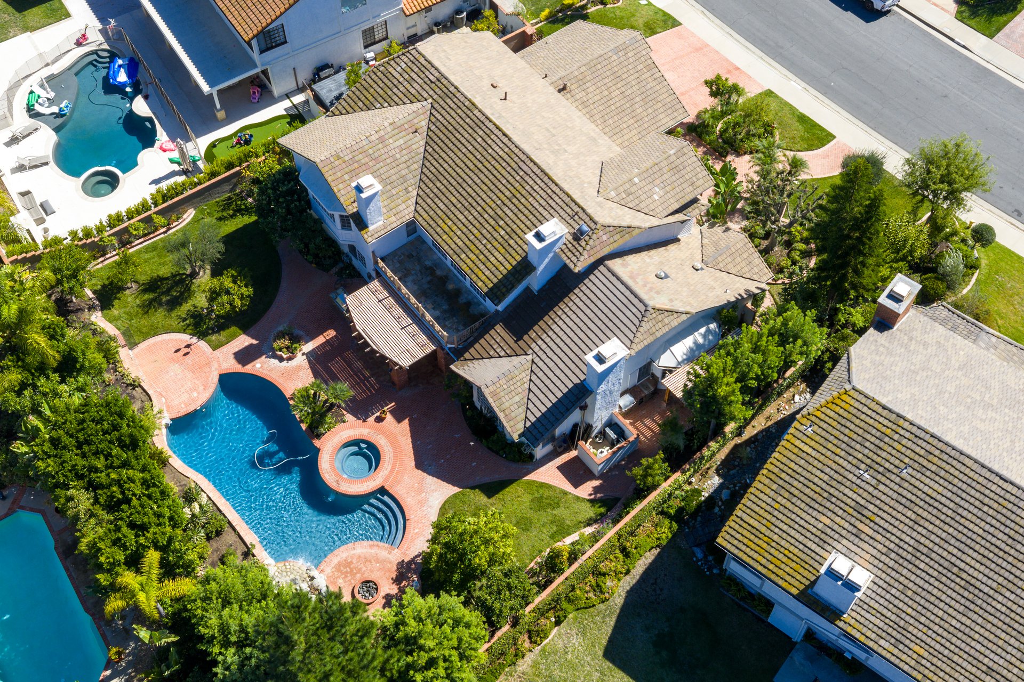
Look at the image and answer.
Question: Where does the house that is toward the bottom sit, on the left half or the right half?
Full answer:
The house that is toward the bottom sits on the right side.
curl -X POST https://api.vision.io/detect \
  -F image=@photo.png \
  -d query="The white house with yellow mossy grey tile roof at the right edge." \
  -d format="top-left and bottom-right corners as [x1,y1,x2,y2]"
[713,273,1024,682]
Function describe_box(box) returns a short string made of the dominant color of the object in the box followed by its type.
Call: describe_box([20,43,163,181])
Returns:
blue swimming pool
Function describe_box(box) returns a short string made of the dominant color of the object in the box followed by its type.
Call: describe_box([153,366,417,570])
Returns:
blue swimming pool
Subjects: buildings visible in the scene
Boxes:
[713,273,1024,682]
[278,22,774,461]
